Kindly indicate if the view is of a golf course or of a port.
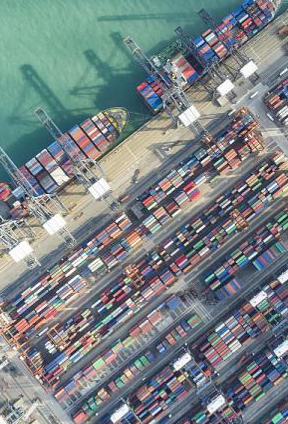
port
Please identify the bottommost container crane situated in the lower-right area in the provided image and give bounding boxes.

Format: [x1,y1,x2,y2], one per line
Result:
[206,382,246,424]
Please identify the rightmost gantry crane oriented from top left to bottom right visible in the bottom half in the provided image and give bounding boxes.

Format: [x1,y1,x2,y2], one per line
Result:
[245,283,287,329]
